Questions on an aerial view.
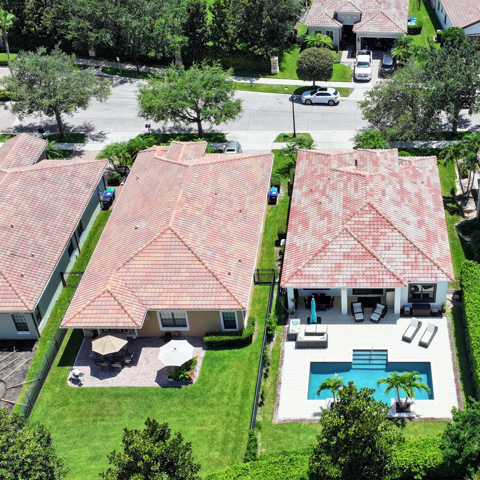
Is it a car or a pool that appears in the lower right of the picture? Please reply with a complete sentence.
Looking in the lower right of the picture, you will find a pool.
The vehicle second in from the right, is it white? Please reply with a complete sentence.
Yes, the vehicle second in from the right is indeed white.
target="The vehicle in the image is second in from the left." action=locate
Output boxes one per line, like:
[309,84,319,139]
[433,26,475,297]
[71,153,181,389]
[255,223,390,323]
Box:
[302,89,341,108]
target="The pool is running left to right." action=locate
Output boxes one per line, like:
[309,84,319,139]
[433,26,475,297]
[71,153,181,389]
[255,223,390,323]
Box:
[308,350,434,400]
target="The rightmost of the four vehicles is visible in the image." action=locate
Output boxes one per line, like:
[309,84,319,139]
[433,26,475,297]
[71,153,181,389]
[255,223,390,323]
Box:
[379,53,397,77]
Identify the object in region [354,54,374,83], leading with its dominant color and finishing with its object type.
white vehicle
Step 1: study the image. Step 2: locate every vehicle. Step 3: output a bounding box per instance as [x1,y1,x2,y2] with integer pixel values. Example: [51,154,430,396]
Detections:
[379,53,397,77]
[222,137,241,153]
[302,89,341,108]
[354,54,374,83]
